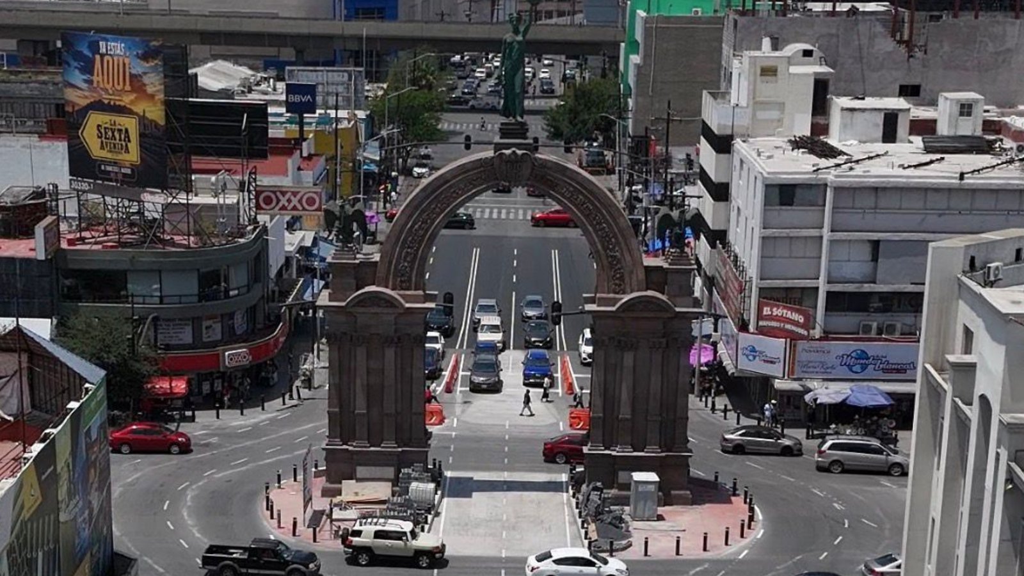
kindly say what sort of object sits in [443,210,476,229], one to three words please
car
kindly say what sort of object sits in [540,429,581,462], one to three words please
car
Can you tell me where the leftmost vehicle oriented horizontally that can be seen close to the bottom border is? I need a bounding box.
[202,527,325,576]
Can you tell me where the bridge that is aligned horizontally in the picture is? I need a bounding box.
[0,5,618,82]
